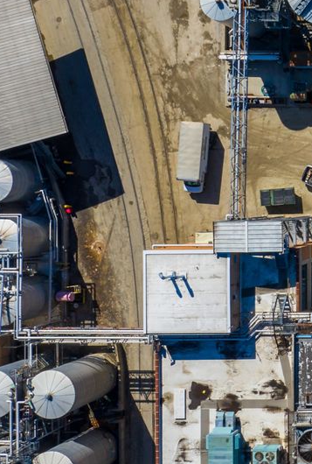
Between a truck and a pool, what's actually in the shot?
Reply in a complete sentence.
There is a truck in the scene.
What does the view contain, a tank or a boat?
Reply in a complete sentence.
It is a tank that can be seen here.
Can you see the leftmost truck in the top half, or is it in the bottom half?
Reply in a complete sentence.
The leftmost truck is in the top half of the image.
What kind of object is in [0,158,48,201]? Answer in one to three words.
storage tank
